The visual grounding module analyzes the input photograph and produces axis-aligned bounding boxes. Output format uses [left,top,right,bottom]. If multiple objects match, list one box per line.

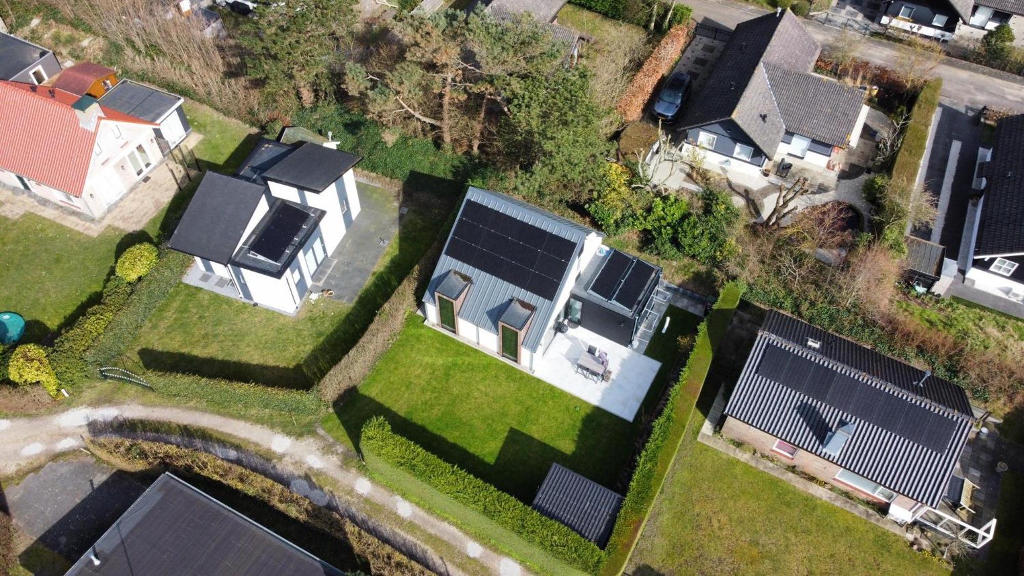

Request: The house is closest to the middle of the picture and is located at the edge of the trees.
[421,184,664,373]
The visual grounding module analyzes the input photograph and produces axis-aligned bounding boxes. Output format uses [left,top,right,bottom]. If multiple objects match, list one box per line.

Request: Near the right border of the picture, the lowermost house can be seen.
[724,307,976,529]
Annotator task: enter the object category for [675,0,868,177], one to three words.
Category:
house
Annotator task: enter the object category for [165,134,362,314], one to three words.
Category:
house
